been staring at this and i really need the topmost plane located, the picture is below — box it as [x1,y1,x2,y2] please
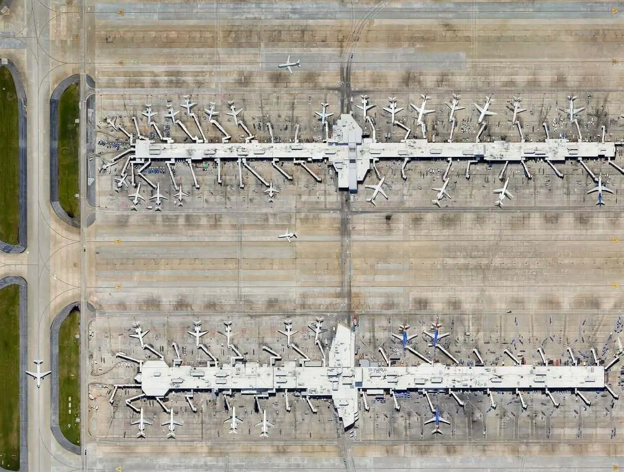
[277,55,300,73]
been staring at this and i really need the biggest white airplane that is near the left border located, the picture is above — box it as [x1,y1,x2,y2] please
[25,360,51,387]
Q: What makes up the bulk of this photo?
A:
paved ground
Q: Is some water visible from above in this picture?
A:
No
